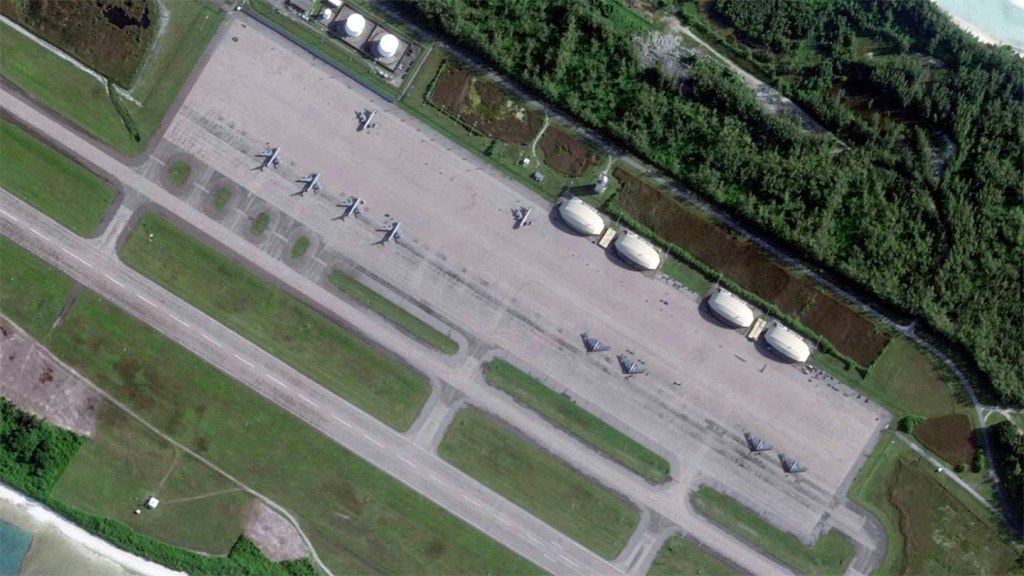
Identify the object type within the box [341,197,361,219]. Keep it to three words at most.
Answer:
airplane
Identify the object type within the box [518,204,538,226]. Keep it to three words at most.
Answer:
airplane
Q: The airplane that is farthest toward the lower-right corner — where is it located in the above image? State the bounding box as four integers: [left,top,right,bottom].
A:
[783,452,808,471]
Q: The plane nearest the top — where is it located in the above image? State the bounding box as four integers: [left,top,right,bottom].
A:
[361,106,382,129]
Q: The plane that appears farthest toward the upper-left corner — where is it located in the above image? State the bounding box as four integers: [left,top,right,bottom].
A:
[261,147,281,170]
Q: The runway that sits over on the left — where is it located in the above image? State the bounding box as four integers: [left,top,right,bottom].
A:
[0,188,627,576]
